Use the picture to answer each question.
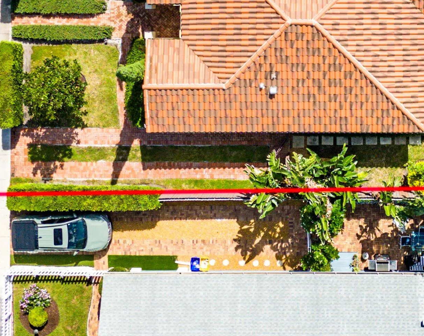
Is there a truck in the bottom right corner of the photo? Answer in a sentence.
No, there is no truck in the bottom right corner of the photo.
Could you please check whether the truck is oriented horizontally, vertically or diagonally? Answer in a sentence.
The truck has been laid out horizontally relative to the frame.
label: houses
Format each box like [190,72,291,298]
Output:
[99,269,424,336]
[140,0,424,133]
